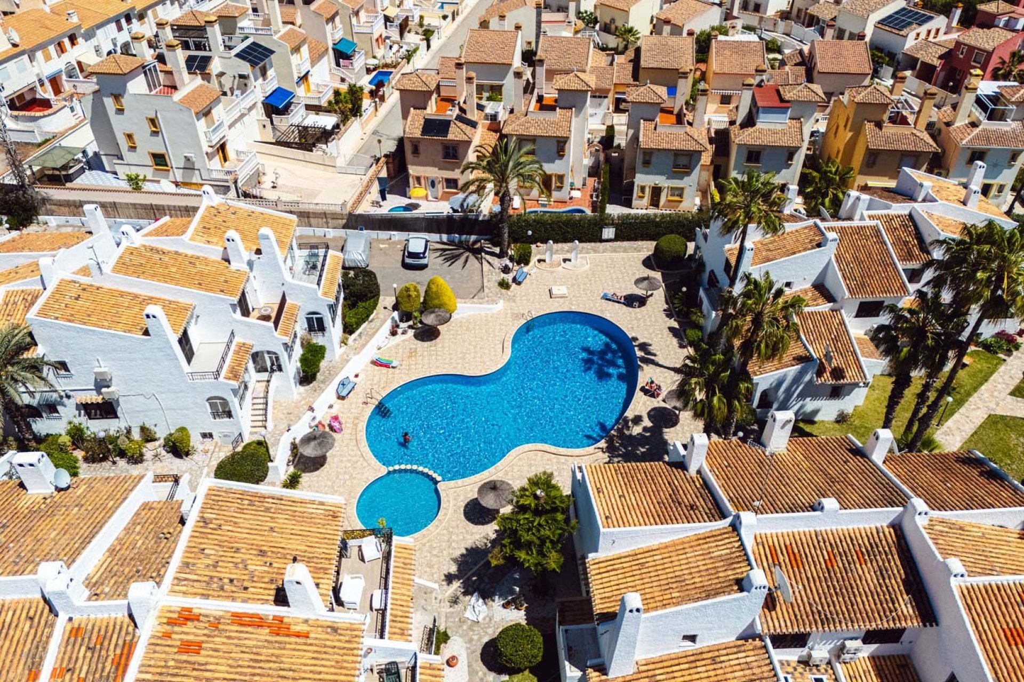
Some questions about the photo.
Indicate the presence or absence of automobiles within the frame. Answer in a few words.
Yes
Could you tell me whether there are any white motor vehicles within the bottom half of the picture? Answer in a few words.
No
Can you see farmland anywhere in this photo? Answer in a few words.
No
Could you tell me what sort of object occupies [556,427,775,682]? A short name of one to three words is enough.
house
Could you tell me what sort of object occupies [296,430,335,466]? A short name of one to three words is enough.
umbrella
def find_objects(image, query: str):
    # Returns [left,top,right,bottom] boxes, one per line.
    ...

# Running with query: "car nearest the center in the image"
[402,233,431,265]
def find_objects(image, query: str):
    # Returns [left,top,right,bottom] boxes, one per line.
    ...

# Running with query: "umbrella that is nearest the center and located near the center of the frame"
[421,309,452,339]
